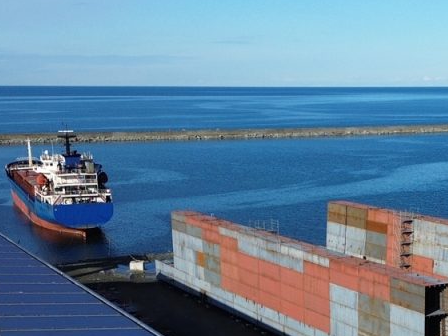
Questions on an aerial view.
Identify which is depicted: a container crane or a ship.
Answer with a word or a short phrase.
ship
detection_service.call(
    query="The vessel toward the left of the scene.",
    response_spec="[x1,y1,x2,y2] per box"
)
[8,111,114,233]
